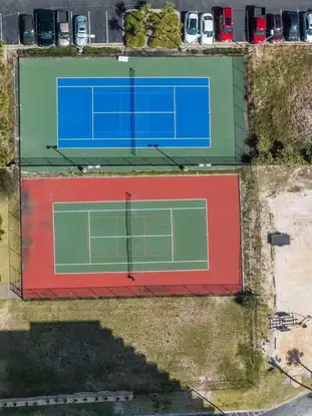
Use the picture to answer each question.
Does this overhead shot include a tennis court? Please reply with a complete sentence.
Yes, a tennis court appears in the view.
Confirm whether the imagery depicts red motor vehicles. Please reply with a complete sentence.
Yes, the image includes a red motor vehicle.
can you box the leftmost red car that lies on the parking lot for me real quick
[217,7,235,43]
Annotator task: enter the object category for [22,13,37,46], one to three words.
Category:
car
